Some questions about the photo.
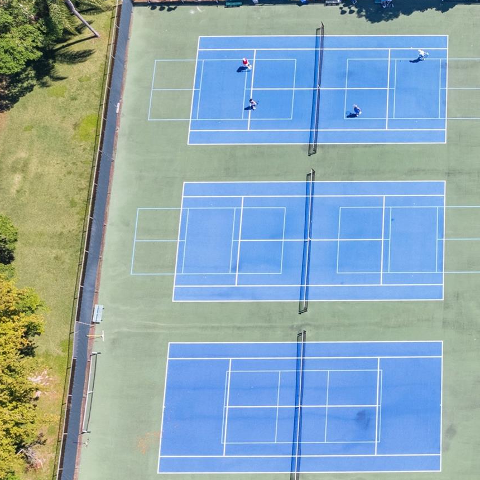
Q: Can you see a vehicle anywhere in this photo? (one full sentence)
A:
No, the frame has no vehicle in it.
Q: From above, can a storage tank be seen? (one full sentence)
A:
No, there's no storage tank here.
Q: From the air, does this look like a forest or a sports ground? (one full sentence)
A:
It's a sports ground.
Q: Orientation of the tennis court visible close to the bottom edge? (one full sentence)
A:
What the image shows is the tennis court visible close to the bottom edge lying from side to side.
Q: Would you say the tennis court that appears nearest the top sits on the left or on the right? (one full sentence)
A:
It is on the right.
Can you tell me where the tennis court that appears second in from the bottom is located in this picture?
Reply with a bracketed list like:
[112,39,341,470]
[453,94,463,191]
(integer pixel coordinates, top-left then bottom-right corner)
[132,182,480,301]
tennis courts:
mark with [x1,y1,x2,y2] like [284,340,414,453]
[148,35,480,144]
[157,340,442,473]
[132,182,480,301]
